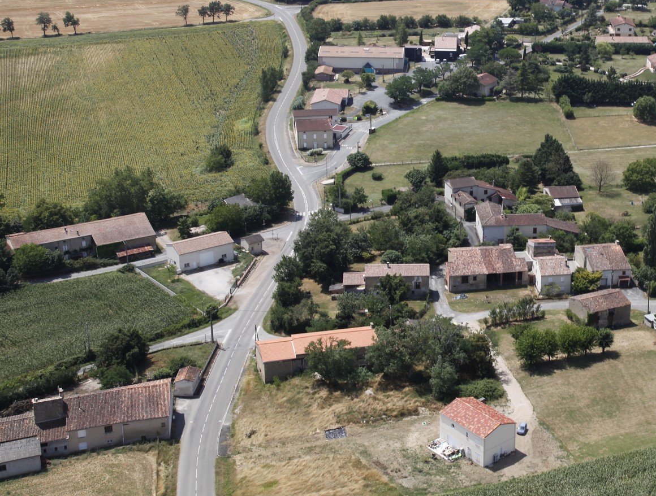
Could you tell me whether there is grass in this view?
Yes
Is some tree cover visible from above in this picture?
Yes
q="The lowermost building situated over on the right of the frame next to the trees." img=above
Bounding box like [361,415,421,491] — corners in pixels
[437,395,518,466]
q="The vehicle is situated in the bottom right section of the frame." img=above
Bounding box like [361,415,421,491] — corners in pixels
[518,420,530,435]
